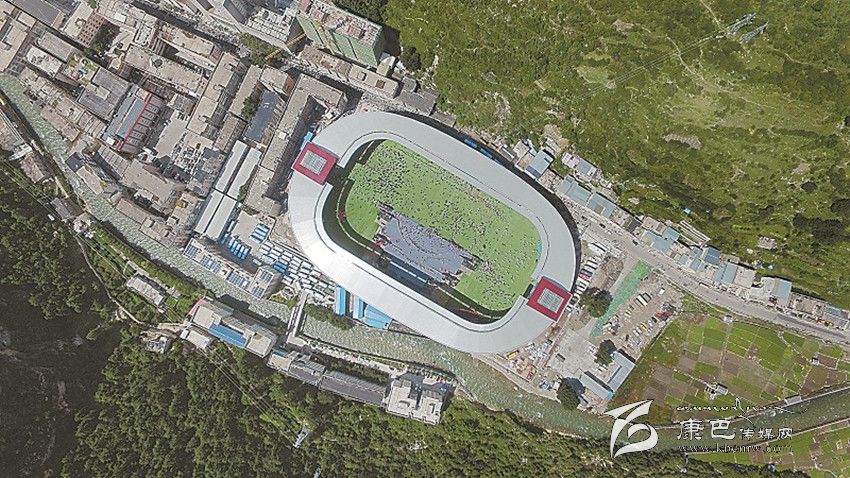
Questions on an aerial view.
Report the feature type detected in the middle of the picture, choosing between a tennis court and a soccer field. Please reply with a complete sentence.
You can see a soccer field in the middle of the picture.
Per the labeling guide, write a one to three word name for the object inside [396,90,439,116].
building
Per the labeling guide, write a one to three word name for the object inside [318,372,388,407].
building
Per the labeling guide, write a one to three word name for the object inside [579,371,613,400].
shed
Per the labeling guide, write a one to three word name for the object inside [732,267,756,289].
house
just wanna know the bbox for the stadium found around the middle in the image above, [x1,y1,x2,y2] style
[285,113,578,356]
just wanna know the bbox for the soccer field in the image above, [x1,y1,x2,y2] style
[340,148,537,309]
